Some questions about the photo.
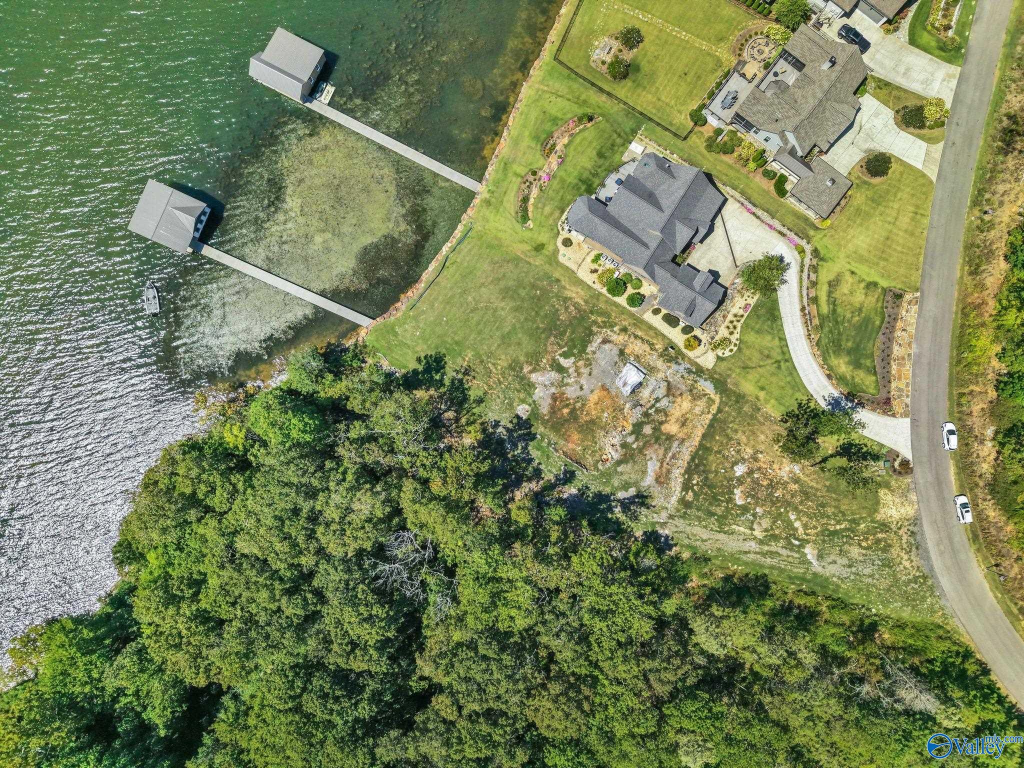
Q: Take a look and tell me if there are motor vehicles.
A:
Yes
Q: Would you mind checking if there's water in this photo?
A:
Yes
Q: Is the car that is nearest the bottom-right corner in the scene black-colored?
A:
No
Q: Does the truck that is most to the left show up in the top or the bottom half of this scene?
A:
top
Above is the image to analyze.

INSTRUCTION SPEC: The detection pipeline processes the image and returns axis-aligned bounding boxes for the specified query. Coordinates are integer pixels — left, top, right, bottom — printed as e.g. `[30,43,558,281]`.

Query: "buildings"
[246,27,333,105]
[832,0,907,24]
[128,181,214,254]
[733,27,866,182]
[566,151,726,327]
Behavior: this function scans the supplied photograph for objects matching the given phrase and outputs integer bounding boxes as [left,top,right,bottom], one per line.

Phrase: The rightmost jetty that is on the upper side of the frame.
[307,100,478,192]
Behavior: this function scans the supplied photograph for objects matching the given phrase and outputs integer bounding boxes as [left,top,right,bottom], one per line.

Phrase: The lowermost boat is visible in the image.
[145,281,160,319]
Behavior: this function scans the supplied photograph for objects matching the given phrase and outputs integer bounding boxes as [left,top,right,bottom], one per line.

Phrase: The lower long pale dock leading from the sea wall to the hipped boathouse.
[200,245,374,328]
